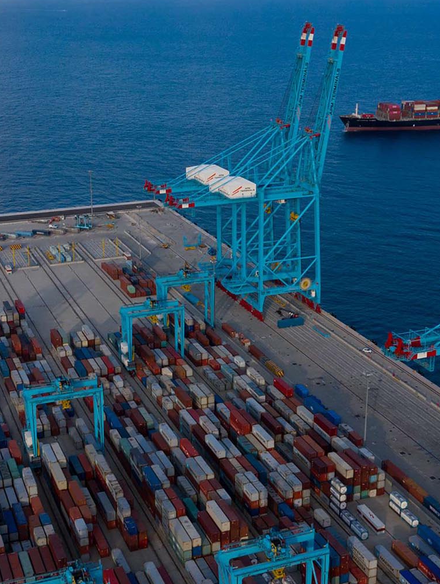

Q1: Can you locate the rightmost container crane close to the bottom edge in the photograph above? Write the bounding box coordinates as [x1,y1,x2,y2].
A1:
[222,522,336,584]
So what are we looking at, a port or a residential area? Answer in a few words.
port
